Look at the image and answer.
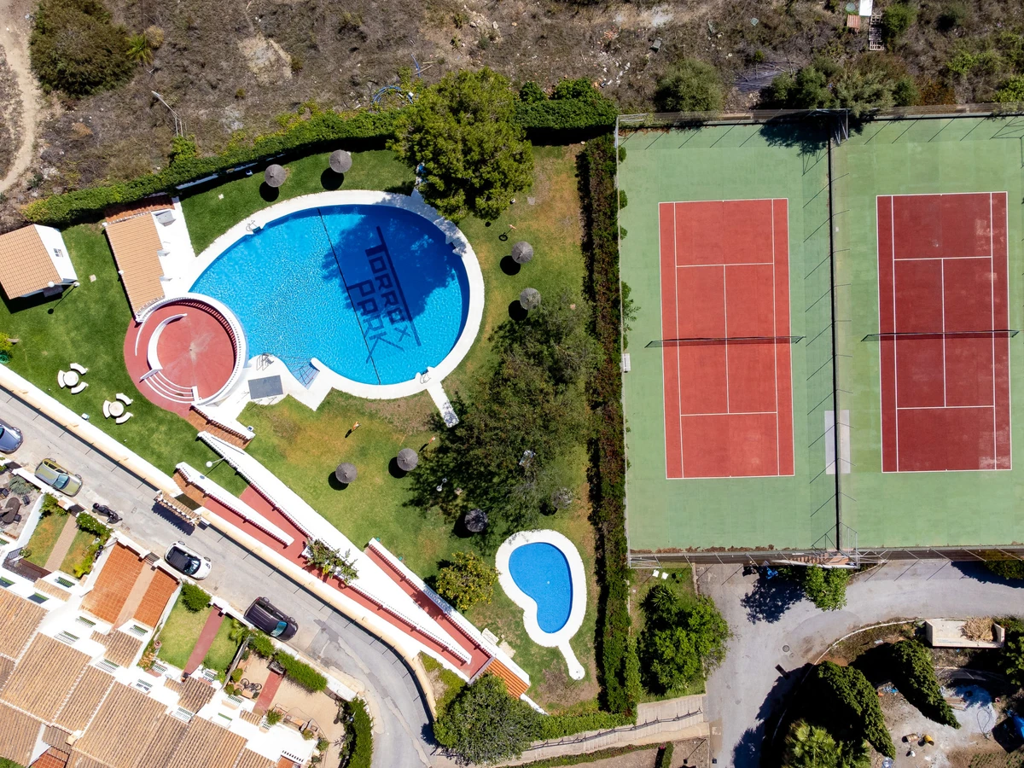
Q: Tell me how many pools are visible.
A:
2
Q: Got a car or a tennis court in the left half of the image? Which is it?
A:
car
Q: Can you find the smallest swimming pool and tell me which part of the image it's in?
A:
bottom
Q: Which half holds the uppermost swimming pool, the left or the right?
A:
left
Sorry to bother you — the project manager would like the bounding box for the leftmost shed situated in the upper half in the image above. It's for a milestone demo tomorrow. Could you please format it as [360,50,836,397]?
[0,225,82,299]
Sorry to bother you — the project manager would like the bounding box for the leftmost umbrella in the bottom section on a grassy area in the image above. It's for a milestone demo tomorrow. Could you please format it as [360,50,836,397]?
[335,462,358,486]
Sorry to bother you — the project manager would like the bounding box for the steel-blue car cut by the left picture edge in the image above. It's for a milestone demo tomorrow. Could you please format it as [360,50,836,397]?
[0,422,25,452]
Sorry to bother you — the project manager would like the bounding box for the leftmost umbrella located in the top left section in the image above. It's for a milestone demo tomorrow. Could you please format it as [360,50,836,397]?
[263,164,287,189]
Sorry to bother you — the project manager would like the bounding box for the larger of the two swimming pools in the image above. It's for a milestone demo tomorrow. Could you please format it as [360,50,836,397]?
[167,189,483,438]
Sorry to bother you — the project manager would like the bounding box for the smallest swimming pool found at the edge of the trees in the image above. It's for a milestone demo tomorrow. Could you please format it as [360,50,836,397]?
[497,530,587,679]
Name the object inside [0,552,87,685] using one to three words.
house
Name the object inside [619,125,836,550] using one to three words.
tennis court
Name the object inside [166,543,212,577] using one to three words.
car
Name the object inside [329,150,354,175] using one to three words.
umbrella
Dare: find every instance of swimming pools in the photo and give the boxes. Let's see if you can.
[167,189,483,438]
[497,530,587,679]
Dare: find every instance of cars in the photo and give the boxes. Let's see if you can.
[0,422,25,452]
[245,600,297,640]
[34,459,82,495]
[166,543,212,577]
